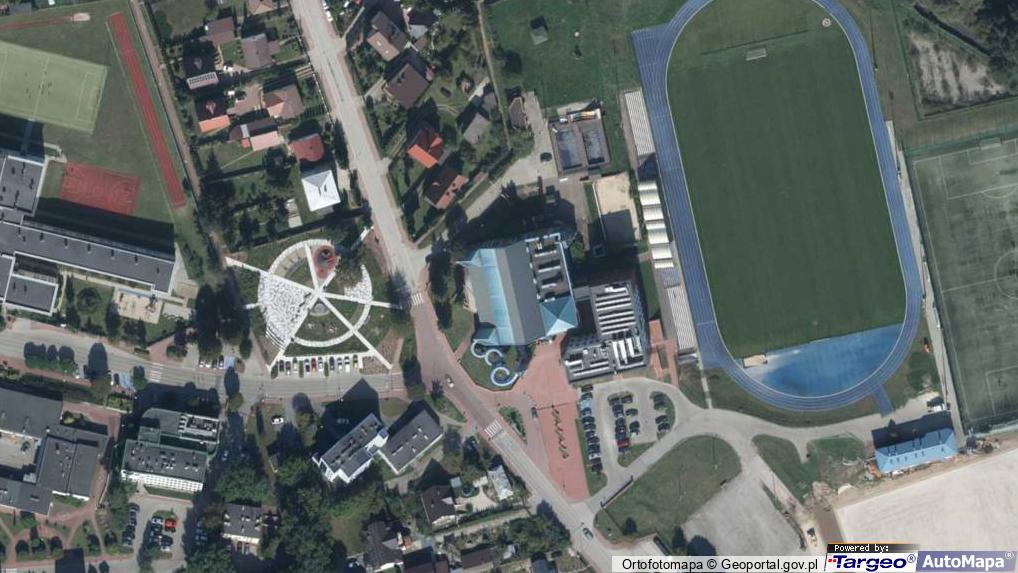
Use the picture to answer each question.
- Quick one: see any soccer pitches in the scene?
Yes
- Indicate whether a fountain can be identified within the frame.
Yes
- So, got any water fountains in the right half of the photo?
No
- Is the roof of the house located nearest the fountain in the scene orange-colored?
No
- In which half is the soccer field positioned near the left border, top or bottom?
top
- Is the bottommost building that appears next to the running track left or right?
right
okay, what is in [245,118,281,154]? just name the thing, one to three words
house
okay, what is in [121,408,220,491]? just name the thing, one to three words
building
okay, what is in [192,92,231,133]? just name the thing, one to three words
house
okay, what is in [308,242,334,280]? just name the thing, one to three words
fountain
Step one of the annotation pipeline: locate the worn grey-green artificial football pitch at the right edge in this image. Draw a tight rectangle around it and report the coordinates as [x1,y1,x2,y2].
[907,128,1018,442]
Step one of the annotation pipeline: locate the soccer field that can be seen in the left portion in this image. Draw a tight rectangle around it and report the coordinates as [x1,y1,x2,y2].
[0,40,107,133]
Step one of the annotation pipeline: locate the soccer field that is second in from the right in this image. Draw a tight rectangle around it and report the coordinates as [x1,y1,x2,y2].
[669,34,903,358]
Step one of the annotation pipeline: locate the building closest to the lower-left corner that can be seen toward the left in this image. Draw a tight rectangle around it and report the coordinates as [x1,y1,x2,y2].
[0,387,110,518]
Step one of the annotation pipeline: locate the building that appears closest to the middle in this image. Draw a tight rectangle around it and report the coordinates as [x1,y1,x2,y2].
[456,233,578,355]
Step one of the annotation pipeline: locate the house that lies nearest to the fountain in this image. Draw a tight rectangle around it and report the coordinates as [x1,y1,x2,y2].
[301,170,341,213]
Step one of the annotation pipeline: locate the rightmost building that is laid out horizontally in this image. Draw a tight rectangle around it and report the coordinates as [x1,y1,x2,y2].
[875,428,959,476]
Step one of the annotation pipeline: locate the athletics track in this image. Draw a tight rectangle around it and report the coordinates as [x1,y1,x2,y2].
[628,0,921,415]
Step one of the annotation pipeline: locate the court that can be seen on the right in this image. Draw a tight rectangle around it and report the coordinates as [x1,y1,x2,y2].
[593,173,638,241]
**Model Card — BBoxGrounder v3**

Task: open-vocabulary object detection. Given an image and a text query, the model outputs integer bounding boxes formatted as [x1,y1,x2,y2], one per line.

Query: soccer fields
[669,34,903,358]
[907,128,1018,442]
[0,40,107,133]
